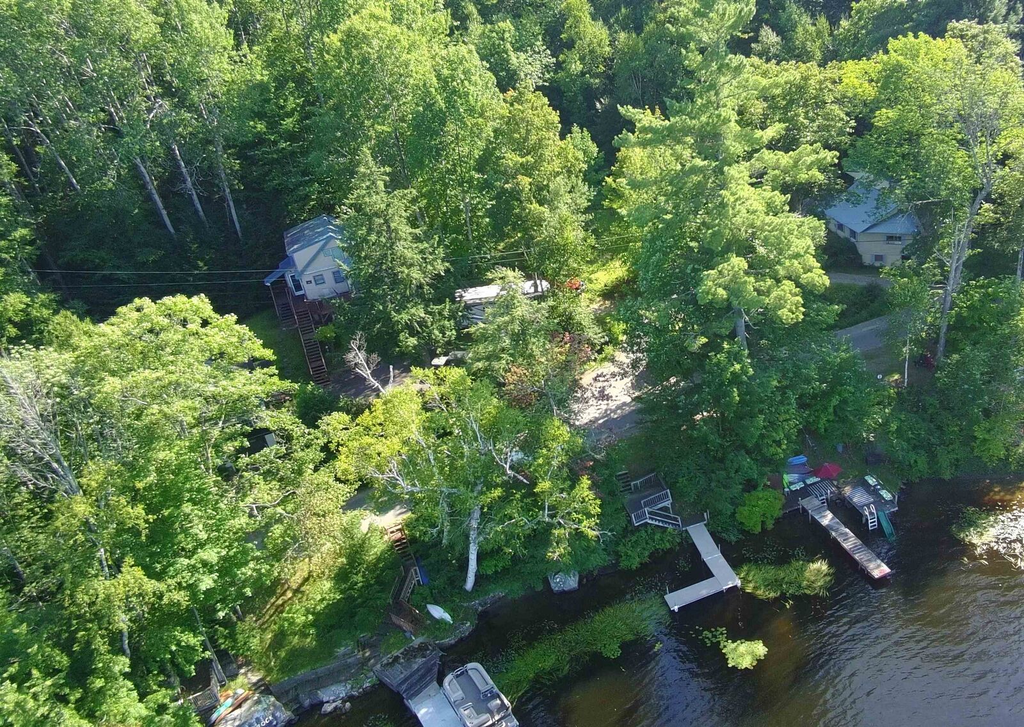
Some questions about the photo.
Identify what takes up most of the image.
trees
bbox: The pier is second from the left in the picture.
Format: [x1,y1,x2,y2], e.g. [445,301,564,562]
[654,522,742,611]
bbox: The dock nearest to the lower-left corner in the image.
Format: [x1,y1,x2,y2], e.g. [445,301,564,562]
[405,683,463,727]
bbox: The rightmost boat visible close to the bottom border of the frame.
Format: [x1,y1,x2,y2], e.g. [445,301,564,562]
[450,661,522,727]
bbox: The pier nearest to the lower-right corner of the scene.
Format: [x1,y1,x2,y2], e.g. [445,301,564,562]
[800,496,892,582]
